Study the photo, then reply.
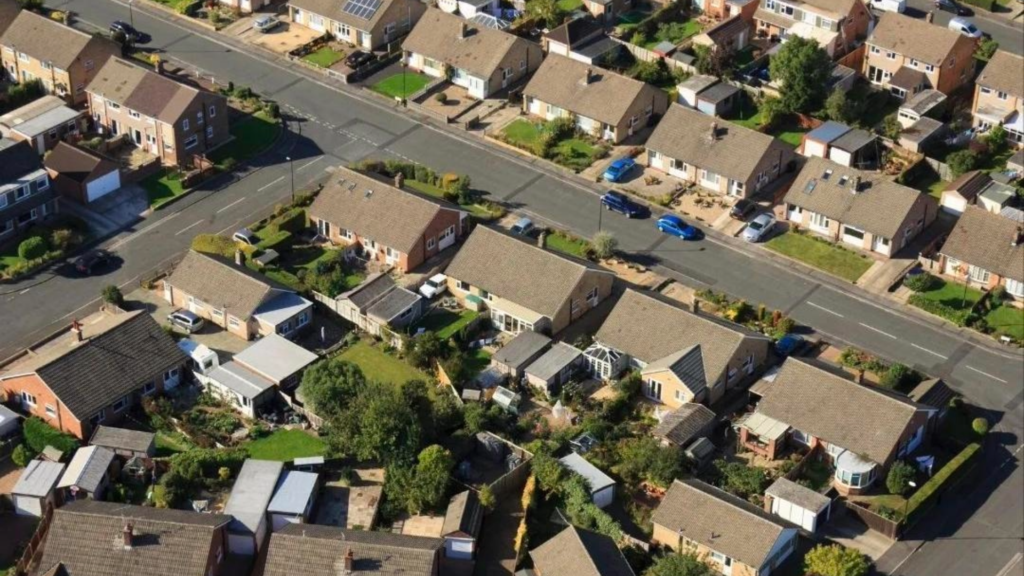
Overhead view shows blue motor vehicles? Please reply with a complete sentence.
Yes, looking at the shot, I can spot a blue motor vehicle.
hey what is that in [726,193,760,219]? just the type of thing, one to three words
car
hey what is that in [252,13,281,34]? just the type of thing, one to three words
car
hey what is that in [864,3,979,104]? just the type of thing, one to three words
house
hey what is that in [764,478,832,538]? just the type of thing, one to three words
building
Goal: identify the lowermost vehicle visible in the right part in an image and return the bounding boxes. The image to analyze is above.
[772,328,810,357]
